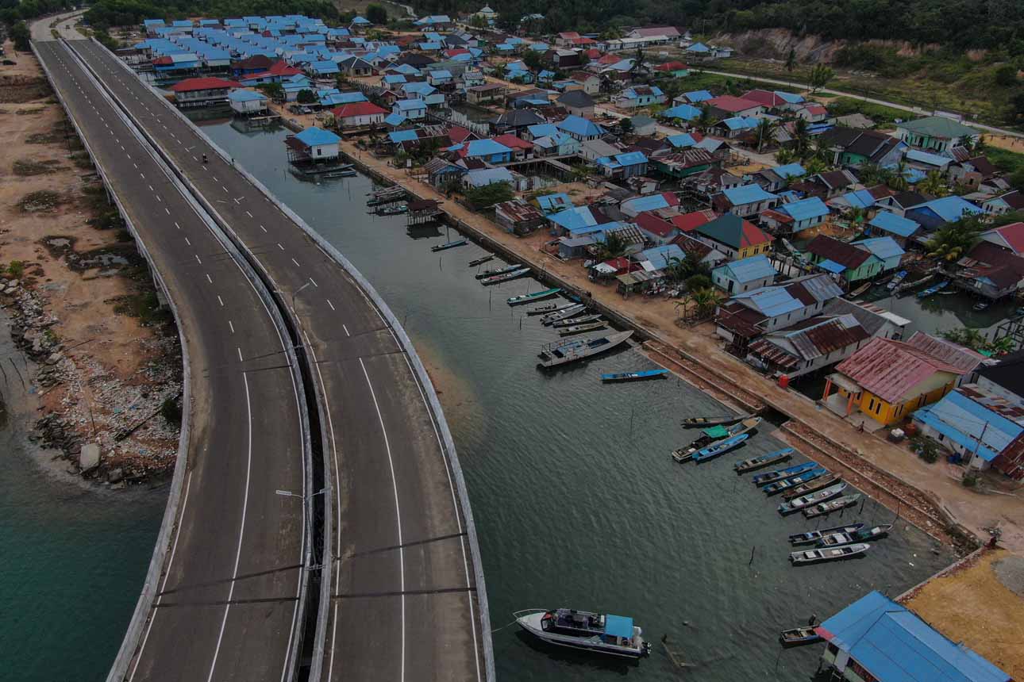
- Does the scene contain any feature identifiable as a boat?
Yes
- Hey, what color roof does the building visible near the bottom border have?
blue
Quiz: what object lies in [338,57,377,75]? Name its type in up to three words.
house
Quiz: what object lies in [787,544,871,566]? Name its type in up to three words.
boat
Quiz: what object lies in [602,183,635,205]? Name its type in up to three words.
shed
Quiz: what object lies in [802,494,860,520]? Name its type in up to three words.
boat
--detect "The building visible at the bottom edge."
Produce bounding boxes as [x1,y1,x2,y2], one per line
[798,580,1012,682]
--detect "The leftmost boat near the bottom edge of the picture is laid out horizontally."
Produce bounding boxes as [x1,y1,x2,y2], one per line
[496,607,651,670]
